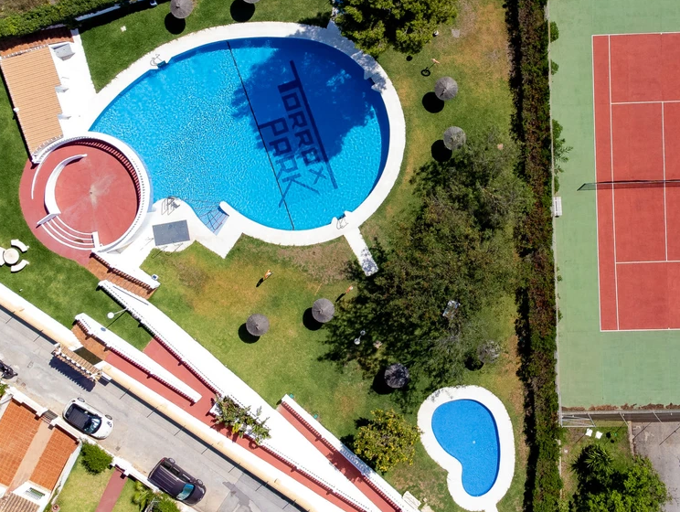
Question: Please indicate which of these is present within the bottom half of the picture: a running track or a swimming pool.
swimming pool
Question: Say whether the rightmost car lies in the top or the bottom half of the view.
bottom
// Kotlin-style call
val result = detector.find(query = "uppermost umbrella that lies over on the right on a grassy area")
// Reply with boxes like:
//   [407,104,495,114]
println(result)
[433,76,457,102]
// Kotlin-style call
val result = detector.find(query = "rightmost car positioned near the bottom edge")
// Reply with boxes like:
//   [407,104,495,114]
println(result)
[149,461,205,503]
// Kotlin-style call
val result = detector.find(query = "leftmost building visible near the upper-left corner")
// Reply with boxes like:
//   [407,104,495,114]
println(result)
[0,28,86,156]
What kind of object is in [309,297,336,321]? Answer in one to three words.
umbrella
